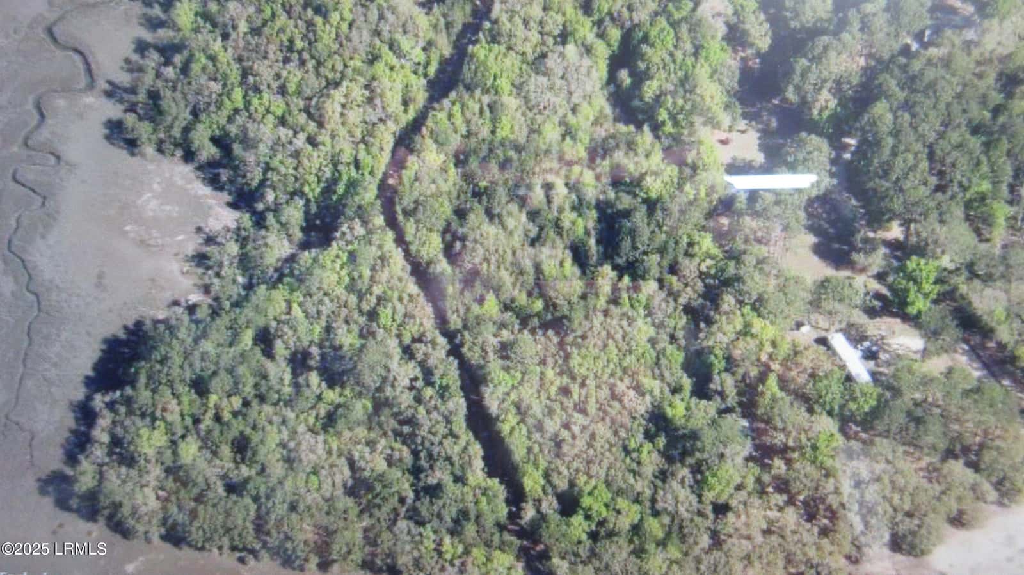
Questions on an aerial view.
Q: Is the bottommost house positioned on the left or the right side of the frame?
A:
right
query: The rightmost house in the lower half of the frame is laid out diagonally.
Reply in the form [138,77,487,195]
[829,332,873,390]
